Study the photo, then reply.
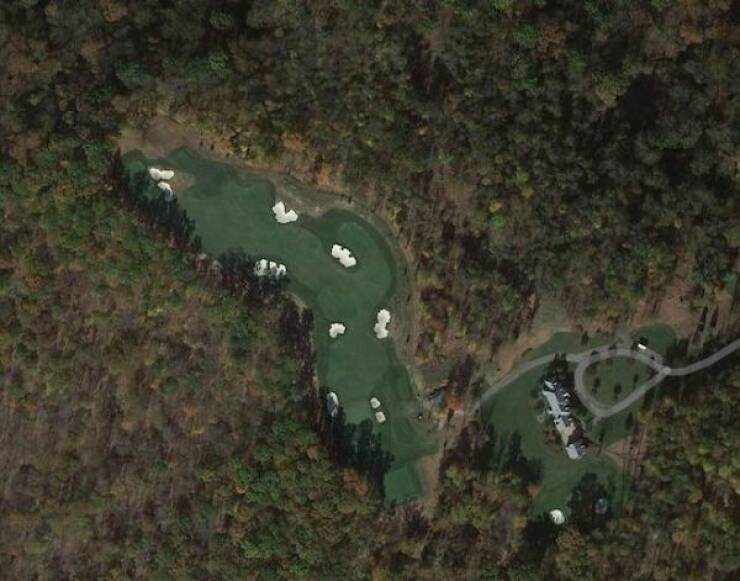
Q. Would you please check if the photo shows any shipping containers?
No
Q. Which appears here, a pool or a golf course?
golf course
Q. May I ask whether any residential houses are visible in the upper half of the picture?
No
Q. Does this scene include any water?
No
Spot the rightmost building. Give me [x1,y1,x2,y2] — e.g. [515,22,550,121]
[542,378,587,460]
